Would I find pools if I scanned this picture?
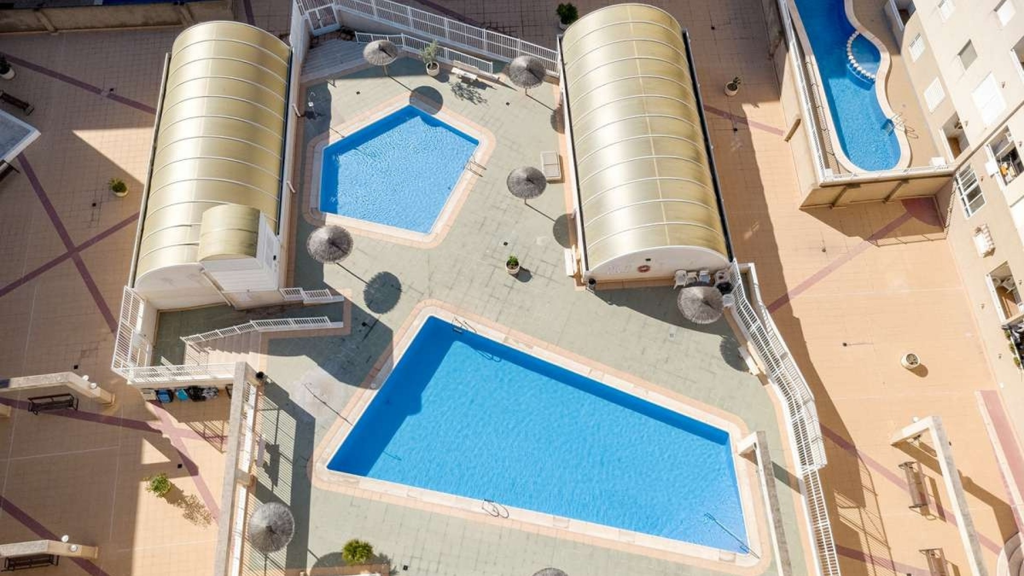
Yes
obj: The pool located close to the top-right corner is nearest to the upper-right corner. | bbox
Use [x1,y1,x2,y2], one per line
[796,0,898,170]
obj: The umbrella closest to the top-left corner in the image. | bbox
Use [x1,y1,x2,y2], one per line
[364,39,401,74]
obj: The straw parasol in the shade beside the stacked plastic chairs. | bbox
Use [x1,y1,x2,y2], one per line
[677,282,725,326]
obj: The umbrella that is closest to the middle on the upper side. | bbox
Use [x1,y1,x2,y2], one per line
[508,169,548,204]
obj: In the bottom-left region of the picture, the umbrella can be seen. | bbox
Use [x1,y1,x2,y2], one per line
[247,501,302,559]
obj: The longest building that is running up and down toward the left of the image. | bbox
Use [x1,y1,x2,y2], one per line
[126,18,308,409]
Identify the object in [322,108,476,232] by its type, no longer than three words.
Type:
swimming pool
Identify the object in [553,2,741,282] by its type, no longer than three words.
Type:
building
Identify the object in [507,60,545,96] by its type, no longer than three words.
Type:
umbrella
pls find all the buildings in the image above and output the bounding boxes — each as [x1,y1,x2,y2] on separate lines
[897,0,1024,518]
[126,18,308,409]
[553,2,741,282]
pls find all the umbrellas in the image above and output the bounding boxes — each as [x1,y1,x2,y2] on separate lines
[507,60,545,96]
[528,565,569,576]
[247,501,302,559]
[364,39,401,74]
[677,282,725,326]
[311,227,359,269]
[508,169,548,204]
